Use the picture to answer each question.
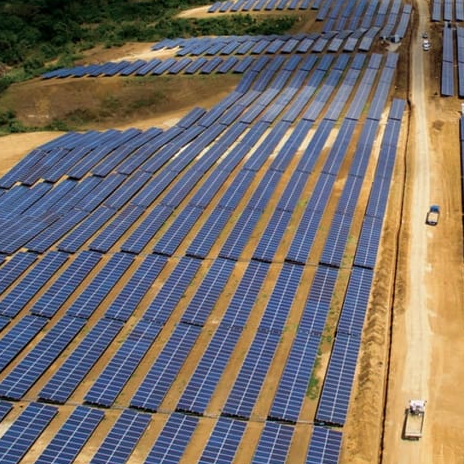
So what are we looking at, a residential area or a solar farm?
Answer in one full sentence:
This looks like a solar farm.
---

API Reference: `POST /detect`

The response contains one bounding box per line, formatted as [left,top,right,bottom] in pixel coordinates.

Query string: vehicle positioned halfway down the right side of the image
[427,208,439,224]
